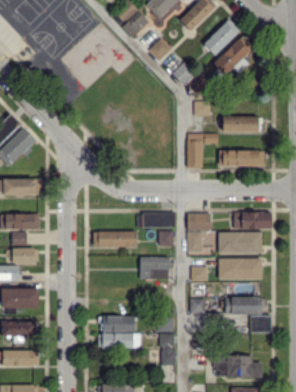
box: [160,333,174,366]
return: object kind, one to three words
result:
building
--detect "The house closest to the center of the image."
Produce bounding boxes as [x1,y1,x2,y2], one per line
[136,211,174,226]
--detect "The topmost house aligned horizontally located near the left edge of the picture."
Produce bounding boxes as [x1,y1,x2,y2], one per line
[0,178,38,196]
